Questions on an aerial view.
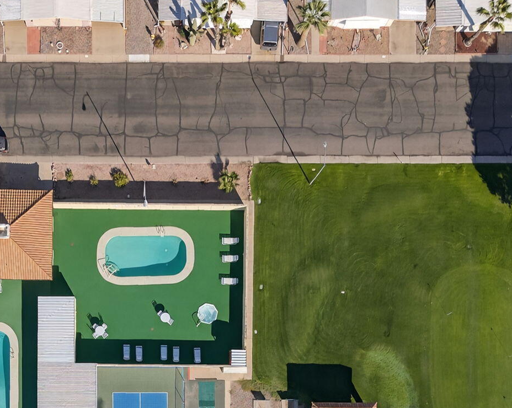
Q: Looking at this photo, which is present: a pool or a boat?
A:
pool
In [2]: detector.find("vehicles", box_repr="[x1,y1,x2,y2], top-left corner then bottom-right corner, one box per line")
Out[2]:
[262,19,280,49]
[0,136,8,155]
